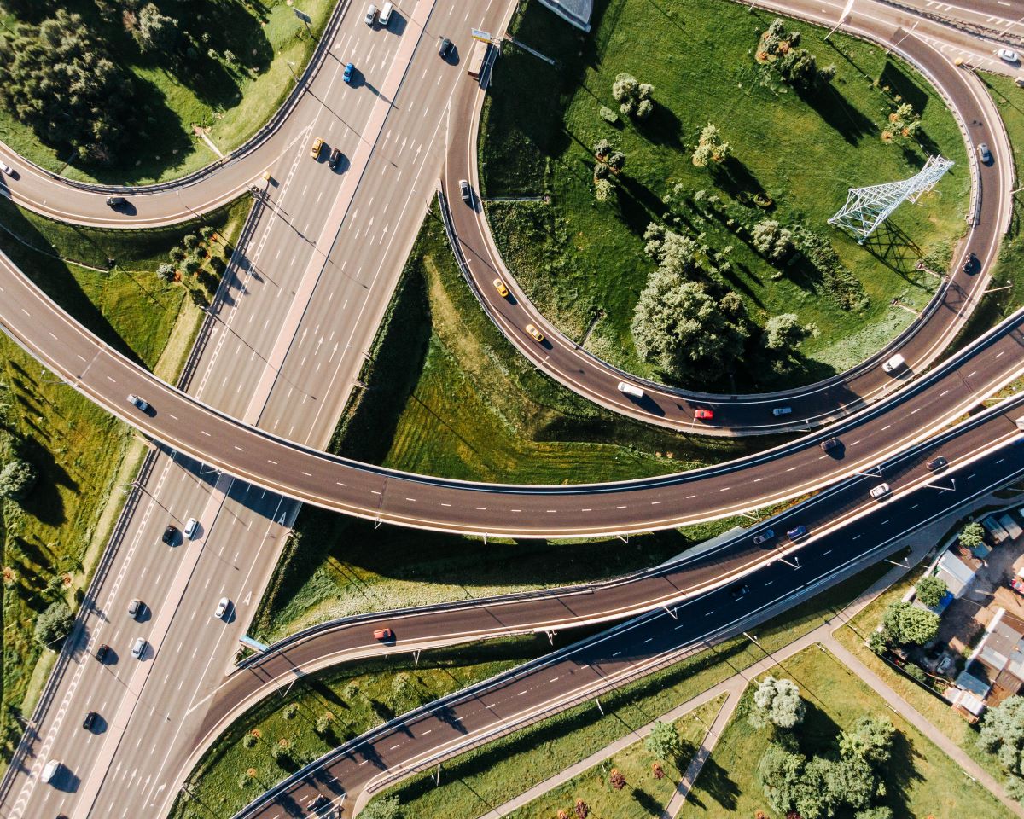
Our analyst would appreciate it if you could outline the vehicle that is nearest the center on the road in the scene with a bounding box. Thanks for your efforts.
[525,323,544,342]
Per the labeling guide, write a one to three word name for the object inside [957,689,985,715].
shed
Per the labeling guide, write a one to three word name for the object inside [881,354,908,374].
vehicle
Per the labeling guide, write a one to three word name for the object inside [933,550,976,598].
house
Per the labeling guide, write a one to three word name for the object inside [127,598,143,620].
car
